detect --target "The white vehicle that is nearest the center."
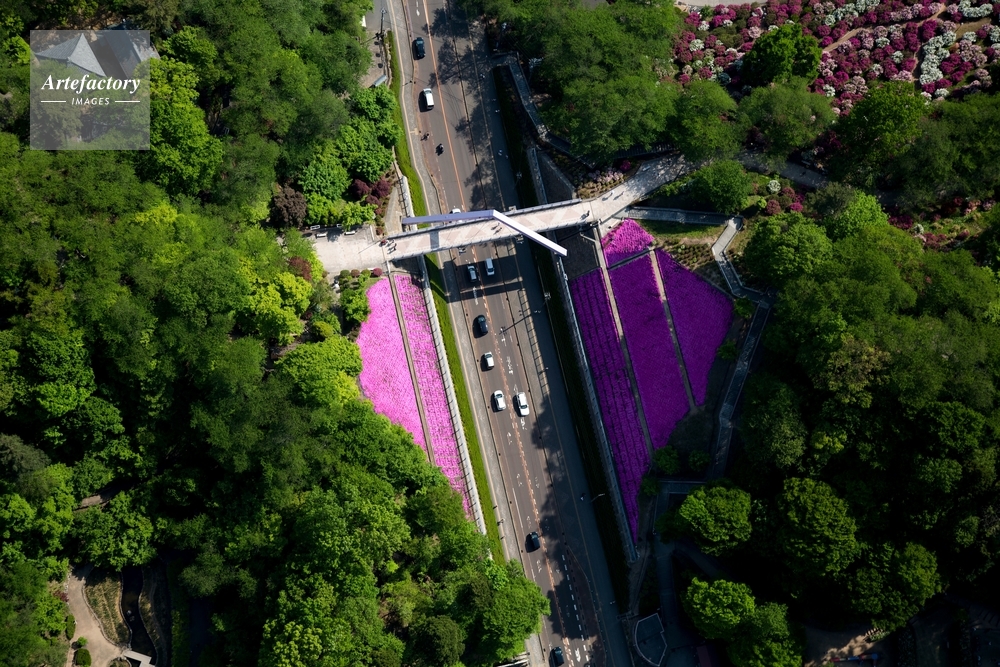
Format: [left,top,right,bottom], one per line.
[483,351,496,372]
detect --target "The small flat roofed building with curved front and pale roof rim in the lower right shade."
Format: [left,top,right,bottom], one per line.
[633,612,668,667]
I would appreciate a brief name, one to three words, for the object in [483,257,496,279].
vehicle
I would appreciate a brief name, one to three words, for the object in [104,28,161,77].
house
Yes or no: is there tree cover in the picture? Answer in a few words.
Yes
